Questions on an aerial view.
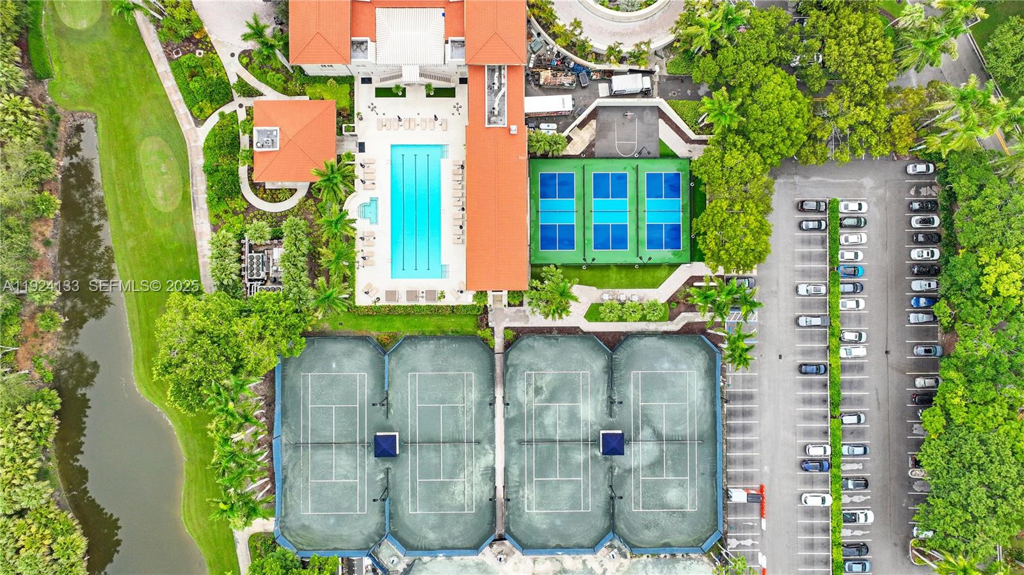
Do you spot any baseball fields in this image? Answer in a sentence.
No, there is no baseball field in the image.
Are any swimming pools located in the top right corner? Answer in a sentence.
No, there is no swimming pool in the top right corner.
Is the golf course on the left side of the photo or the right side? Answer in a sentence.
The golf course is on the left side of the image.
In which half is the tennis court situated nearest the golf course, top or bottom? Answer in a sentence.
The bottom half of the photo is where the tennis court situated nearest the golf course is.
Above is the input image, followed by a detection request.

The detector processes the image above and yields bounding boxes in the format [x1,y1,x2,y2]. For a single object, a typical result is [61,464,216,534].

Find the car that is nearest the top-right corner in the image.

[905,162,934,175]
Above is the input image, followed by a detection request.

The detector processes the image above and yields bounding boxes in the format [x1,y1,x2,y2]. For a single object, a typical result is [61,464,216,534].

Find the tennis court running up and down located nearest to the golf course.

[280,338,388,552]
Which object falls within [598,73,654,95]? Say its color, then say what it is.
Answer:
white truck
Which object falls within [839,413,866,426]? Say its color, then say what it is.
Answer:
white vehicle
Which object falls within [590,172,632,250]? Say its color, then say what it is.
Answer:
blue sports court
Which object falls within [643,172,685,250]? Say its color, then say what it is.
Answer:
blue sports court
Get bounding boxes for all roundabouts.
[541,0,710,54]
